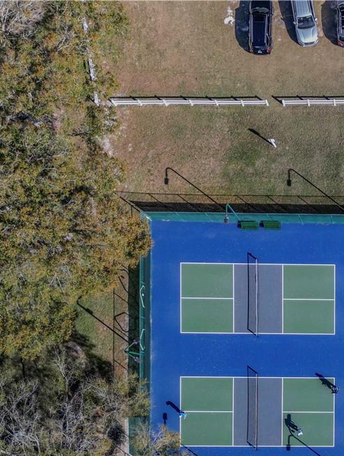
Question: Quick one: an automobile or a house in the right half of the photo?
automobile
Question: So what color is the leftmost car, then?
black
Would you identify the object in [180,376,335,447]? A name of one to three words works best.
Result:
sports court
